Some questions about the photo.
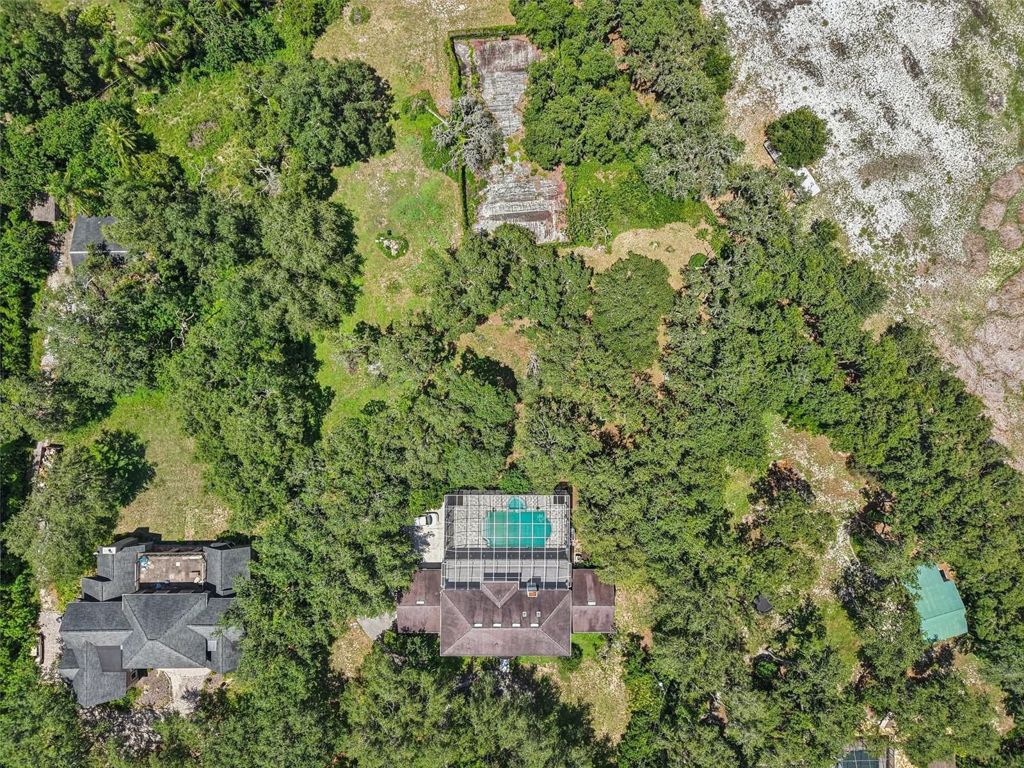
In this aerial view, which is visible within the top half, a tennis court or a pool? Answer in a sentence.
Looking within the top half, you will find a tennis court.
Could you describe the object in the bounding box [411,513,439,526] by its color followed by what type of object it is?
white vehicle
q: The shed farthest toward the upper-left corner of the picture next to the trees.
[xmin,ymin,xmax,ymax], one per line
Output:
[32,193,65,223]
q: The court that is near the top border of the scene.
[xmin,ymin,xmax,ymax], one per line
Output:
[456,36,572,242]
